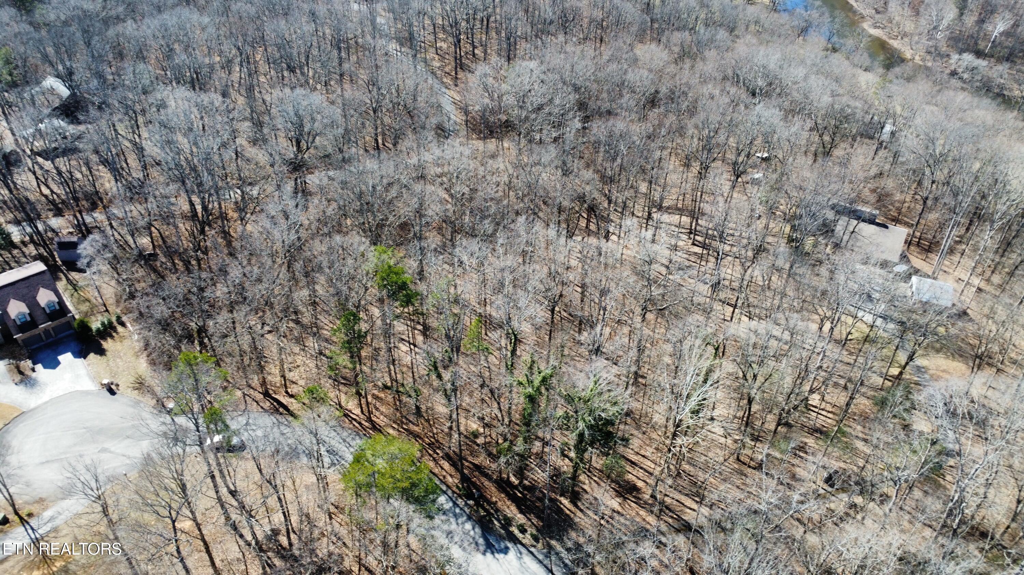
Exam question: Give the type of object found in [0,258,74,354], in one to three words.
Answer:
house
